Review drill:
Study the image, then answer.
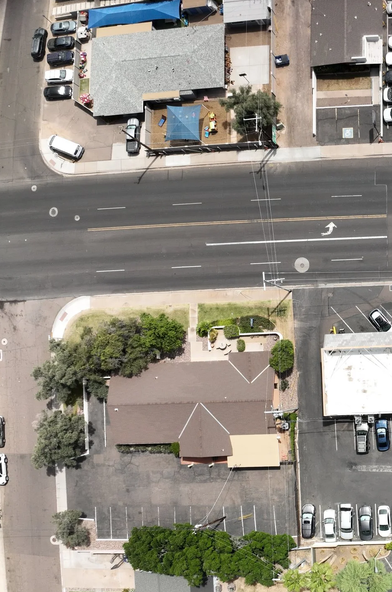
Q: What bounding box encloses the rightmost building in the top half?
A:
[311,0,386,72]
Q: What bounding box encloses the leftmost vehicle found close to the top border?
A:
[29,27,50,61]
